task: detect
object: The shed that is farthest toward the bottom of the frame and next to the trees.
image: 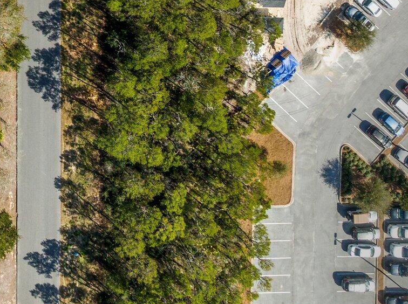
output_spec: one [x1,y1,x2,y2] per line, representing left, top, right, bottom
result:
[255,17,285,33]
